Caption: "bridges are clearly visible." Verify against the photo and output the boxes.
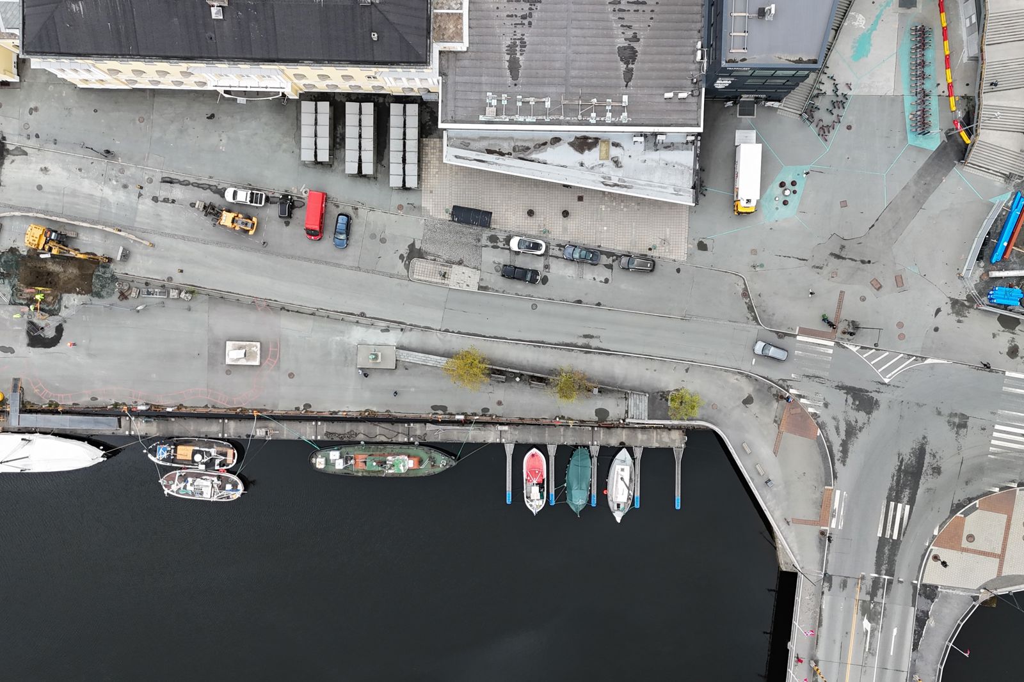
[771,531,996,682]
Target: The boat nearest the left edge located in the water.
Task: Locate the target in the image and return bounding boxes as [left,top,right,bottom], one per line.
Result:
[0,434,114,472]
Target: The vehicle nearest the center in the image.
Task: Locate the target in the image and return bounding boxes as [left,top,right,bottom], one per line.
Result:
[500,264,542,286]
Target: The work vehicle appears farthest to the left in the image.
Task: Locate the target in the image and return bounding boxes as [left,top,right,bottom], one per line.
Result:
[22,225,108,262]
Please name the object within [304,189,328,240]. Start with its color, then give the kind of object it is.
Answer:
red vehicle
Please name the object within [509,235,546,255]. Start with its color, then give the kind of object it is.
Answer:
white car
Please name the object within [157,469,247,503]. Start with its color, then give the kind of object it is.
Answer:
white boat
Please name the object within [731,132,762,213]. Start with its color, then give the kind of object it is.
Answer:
white truck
